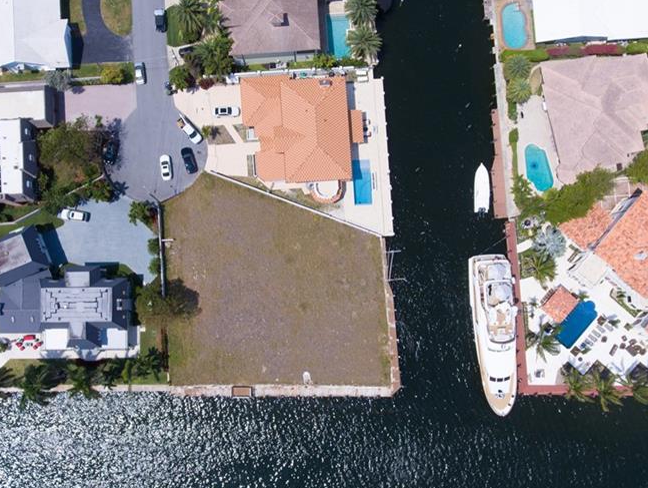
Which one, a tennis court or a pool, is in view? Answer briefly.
pool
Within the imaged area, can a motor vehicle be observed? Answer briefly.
Yes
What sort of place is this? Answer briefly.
residential area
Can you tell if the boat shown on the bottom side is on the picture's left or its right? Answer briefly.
right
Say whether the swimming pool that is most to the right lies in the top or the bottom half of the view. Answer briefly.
bottom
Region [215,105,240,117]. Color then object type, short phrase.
white vehicle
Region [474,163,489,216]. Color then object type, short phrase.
white boat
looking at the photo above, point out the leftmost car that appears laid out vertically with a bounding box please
[104,135,119,162]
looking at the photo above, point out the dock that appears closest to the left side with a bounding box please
[371,78,393,235]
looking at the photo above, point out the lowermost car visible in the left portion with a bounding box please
[61,208,89,220]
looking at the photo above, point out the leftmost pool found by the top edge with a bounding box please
[326,13,352,60]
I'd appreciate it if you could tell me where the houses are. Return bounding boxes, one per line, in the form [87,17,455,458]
[0,85,53,199]
[224,0,321,58]
[0,0,75,71]
[557,189,648,332]
[0,225,143,352]
[538,53,648,183]
[531,0,648,46]
[240,76,364,183]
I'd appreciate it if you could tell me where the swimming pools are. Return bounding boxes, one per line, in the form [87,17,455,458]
[524,143,554,189]
[555,299,600,350]
[326,13,352,60]
[500,1,528,48]
[351,159,373,206]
